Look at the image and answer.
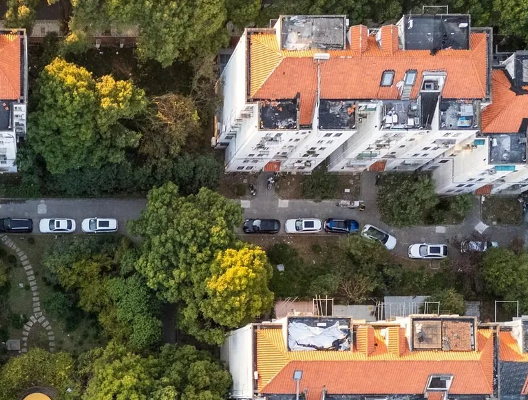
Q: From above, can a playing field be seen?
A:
No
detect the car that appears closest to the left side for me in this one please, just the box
[0,217,32,234]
